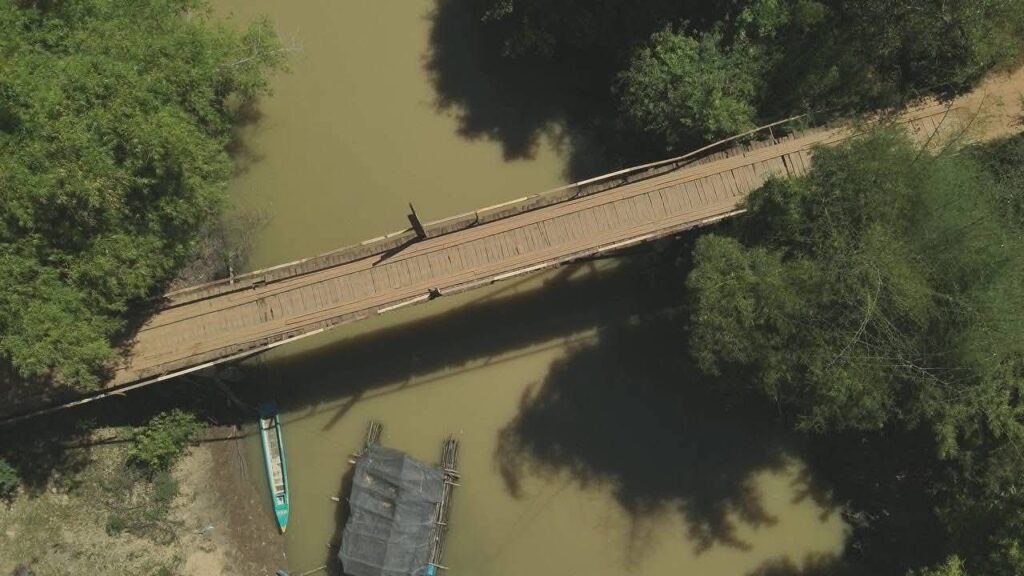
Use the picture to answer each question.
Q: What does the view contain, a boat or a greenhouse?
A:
boat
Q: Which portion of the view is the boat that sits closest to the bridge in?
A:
bottom left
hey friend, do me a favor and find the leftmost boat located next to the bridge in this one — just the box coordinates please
[261,404,289,533]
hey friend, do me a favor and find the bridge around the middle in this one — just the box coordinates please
[0,95,963,422]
